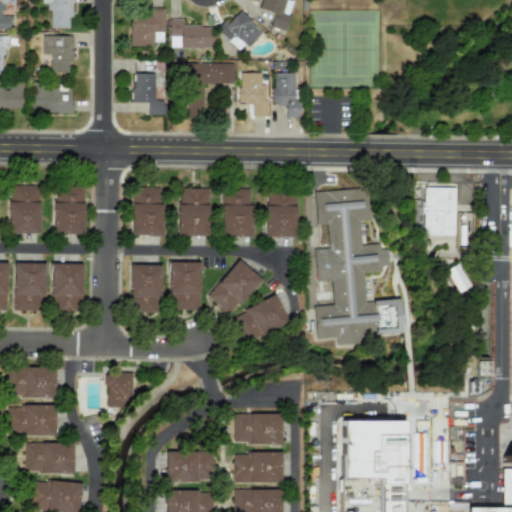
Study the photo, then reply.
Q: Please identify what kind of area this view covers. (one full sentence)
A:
This looks like a residential area.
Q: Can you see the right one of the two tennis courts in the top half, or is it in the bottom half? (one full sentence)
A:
Seen from above, the right one of the two tennis courts lies in the top half of the view.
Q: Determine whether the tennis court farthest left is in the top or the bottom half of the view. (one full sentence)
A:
You can find the tennis court farthest left in the top half.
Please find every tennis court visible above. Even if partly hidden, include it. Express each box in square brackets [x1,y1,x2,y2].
[310,10,345,88]
[345,10,380,88]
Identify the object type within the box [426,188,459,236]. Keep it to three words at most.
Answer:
building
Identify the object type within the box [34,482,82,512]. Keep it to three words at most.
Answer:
house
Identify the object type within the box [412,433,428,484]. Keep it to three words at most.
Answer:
tent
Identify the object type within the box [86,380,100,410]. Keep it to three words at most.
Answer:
swimming pool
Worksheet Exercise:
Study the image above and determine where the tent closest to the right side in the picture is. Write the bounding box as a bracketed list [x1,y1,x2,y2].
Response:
[434,441,448,466]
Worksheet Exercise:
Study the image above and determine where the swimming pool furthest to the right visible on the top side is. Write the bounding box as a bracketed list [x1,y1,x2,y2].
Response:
[252,41,276,56]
